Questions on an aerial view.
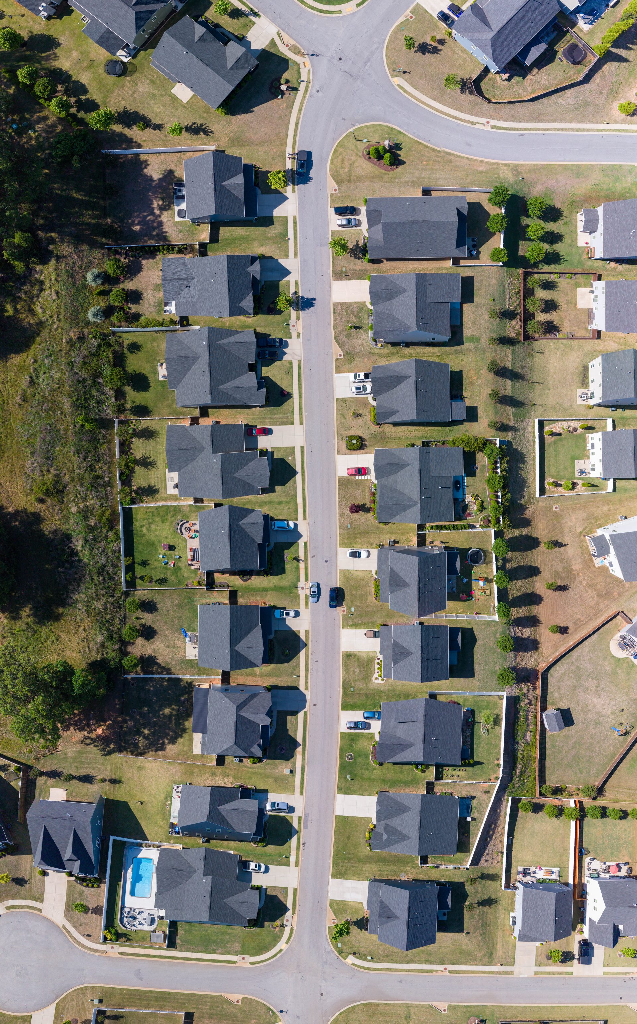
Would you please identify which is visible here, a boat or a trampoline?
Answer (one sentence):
Visible in the photo is a trampoline.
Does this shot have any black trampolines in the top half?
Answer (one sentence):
Yes, in the top half there is a black trampoline.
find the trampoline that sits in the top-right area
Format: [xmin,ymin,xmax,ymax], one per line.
[561,40,586,67]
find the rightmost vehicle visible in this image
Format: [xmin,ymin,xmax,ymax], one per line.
[579,938,591,965]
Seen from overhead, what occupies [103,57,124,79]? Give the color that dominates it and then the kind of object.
black trampoline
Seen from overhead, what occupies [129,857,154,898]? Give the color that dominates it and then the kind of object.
blue swimming pool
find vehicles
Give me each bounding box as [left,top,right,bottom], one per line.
[447,2,463,20]
[362,629,379,639]
[347,549,368,559]
[296,151,307,178]
[258,350,279,360]
[247,427,268,437]
[257,338,283,348]
[309,582,319,603]
[274,609,295,619]
[436,9,455,30]
[347,720,367,729]
[361,711,379,720]
[579,938,591,965]
[346,467,367,475]
[328,587,339,608]
[351,384,372,395]
[349,372,372,383]
[266,802,289,812]
[334,205,356,216]
[337,217,358,228]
